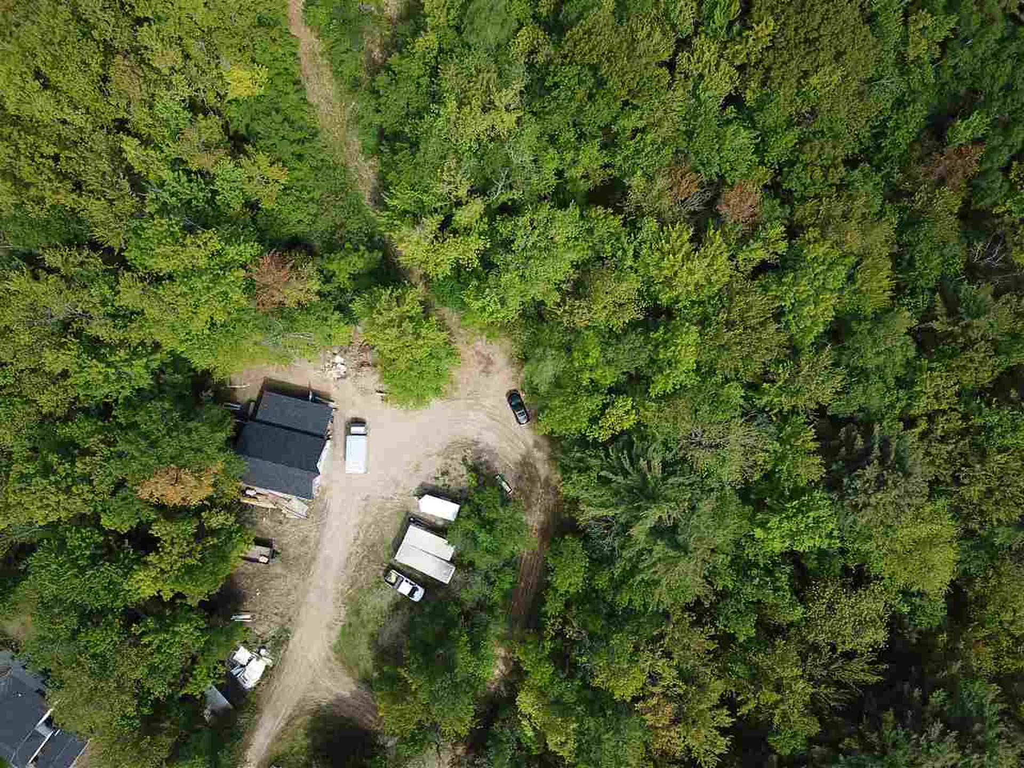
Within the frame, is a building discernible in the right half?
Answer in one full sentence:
No, I can find no building in the right half.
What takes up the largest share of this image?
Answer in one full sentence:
The largest share of the image is taken up by trees.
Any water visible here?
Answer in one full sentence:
No, no water is visible.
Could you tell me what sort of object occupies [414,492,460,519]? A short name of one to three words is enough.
trailer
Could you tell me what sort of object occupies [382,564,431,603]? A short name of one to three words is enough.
truck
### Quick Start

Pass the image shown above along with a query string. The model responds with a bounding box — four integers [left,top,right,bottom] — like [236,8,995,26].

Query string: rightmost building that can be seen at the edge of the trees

[229,394,337,499]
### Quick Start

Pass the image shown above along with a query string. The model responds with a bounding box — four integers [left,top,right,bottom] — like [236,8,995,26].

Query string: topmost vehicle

[506,389,531,427]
